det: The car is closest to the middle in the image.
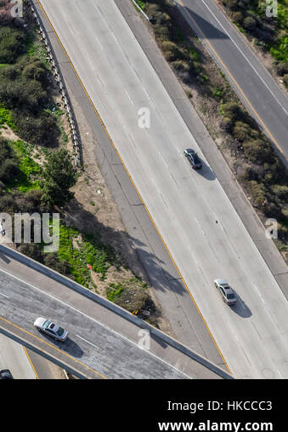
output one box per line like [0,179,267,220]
[182,148,203,171]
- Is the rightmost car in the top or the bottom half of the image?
bottom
